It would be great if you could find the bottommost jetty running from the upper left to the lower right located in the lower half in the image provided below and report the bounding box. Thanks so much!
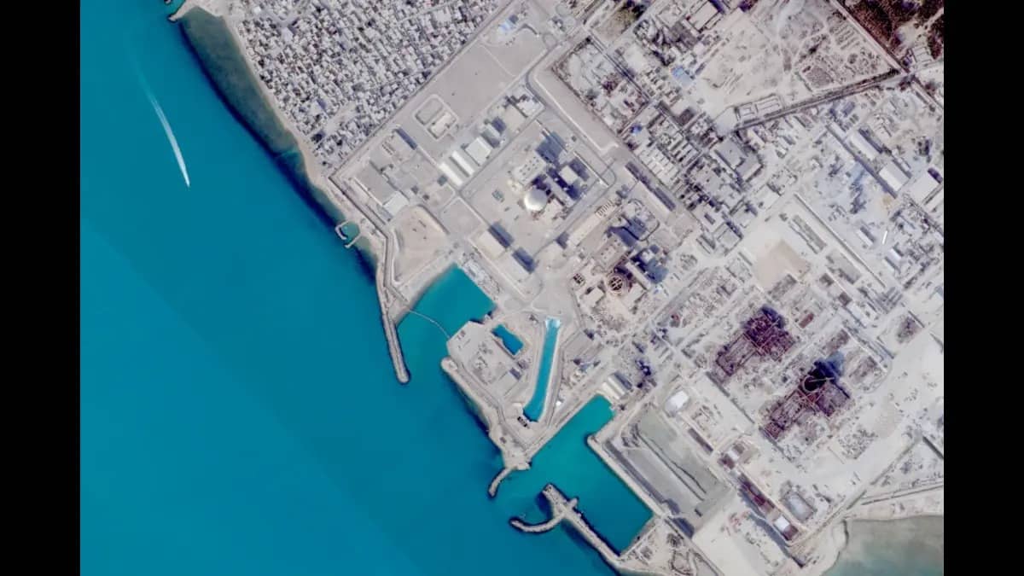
[545,485,624,570]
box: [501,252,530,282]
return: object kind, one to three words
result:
building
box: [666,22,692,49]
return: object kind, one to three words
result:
building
